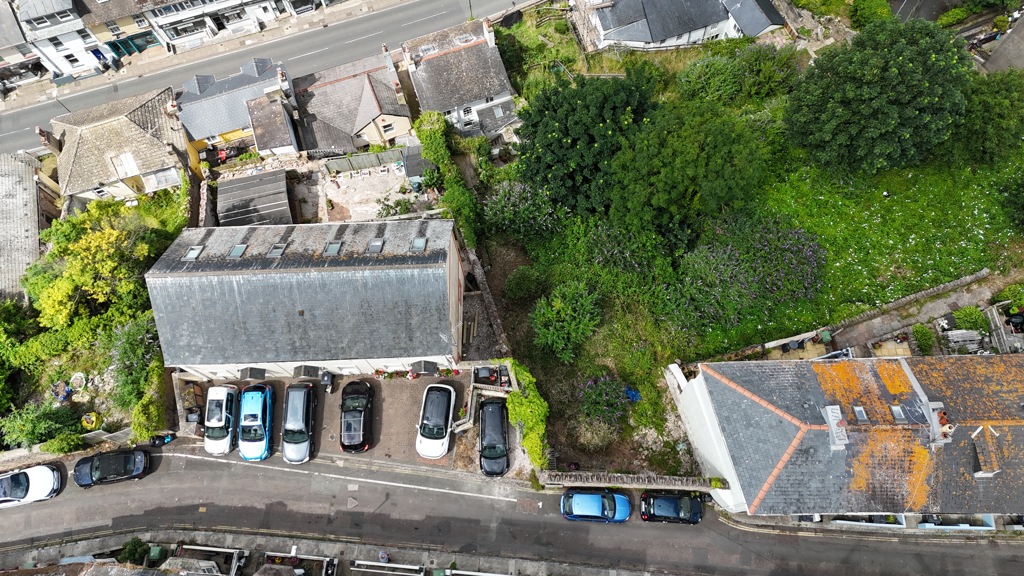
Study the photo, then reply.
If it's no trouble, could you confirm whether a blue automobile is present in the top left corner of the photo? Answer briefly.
No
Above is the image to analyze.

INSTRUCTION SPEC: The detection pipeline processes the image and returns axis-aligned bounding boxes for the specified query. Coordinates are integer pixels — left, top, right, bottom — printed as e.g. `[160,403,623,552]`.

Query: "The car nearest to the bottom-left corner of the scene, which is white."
[0,465,63,509]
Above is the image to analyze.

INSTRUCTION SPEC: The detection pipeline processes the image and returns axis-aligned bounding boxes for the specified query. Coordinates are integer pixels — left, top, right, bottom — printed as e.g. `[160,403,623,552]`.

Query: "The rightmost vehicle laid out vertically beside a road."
[476,401,513,477]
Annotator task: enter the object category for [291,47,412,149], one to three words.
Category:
house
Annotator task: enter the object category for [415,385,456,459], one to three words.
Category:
car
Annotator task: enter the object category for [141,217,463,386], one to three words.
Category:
building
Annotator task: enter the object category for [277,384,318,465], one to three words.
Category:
car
